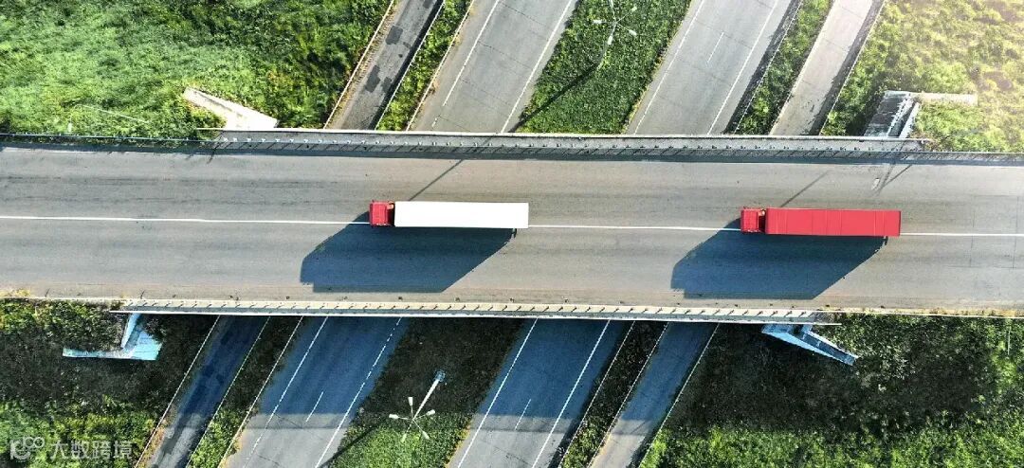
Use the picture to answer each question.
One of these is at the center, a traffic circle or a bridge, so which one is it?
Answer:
bridge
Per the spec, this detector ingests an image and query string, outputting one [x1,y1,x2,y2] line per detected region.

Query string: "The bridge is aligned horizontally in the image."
[63,86,981,366]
